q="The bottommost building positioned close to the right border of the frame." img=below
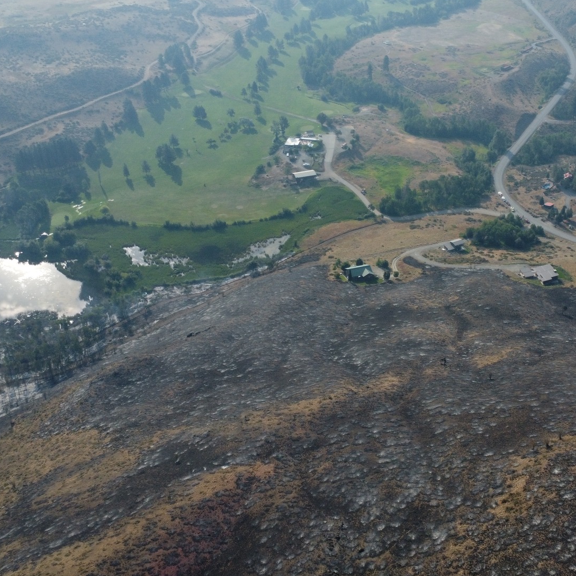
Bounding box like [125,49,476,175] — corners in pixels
[507,262,563,285]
